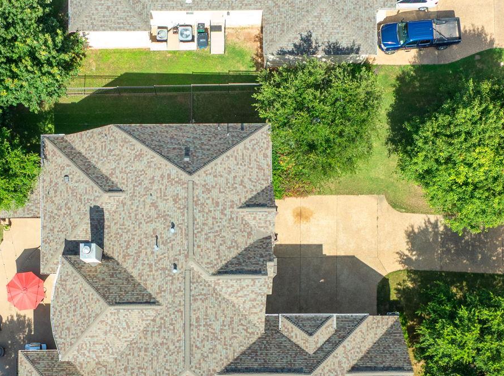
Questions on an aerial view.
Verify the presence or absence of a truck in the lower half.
No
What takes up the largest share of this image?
buildings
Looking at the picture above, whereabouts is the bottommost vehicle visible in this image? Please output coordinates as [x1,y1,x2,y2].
[378,15,463,55]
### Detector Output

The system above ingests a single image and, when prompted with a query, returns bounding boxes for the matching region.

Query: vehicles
[396,0,441,14]
[378,15,463,55]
